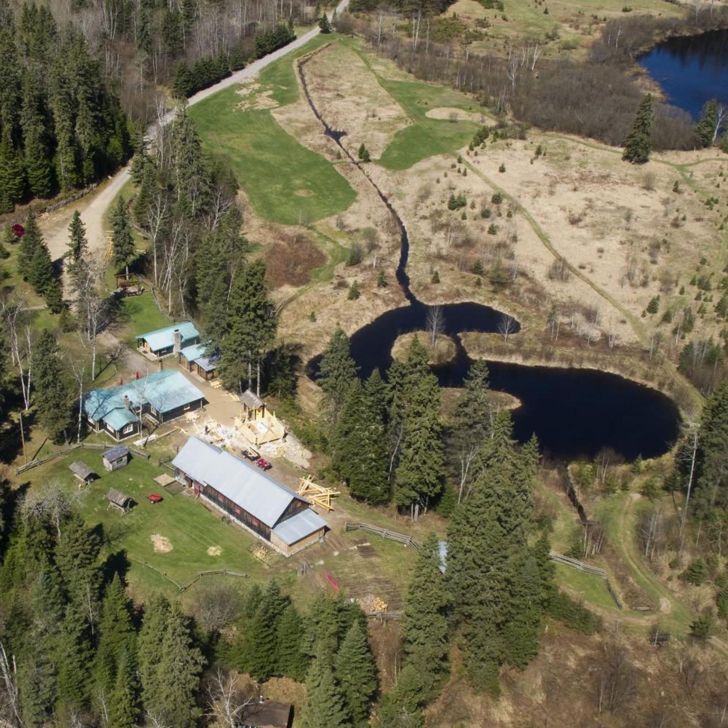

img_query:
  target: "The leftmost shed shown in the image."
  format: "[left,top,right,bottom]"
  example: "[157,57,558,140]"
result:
[70,458,97,484]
